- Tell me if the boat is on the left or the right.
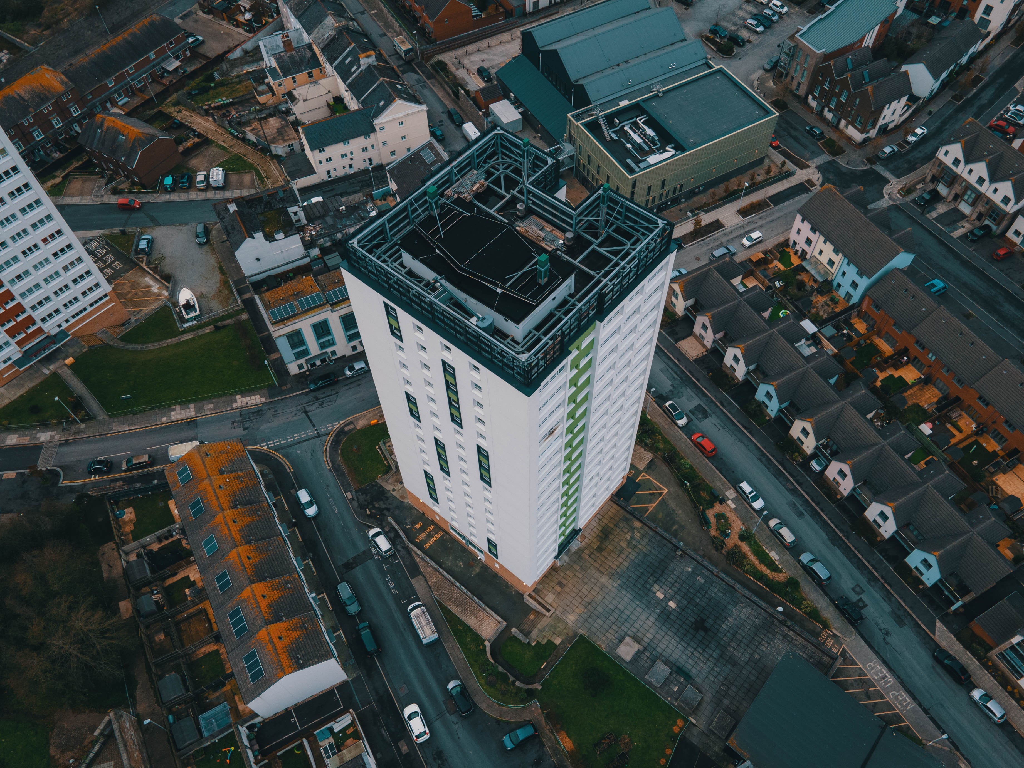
left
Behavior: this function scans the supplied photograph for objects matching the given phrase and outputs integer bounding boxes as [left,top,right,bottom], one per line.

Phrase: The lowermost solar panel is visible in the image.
[241,649,264,686]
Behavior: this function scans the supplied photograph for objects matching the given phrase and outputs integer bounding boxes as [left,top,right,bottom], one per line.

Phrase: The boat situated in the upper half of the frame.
[177,284,199,321]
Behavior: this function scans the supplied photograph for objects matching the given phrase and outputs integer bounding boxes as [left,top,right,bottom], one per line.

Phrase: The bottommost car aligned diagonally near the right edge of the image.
[967,687,1008,727]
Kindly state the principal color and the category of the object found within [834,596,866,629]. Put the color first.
black car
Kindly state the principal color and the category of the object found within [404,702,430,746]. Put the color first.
white car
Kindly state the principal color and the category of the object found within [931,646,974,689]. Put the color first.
black car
